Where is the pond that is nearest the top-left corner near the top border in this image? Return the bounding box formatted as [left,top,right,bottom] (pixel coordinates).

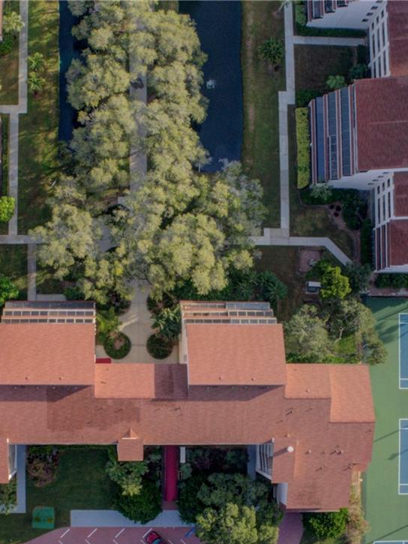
[60,0,94,156]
